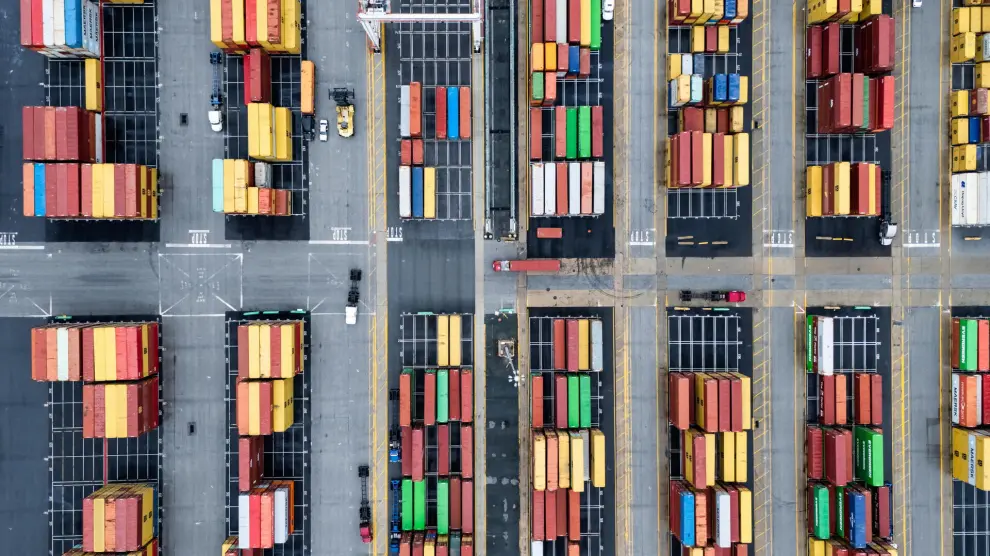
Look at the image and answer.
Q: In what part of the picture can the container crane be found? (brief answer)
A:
top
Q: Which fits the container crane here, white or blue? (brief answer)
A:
white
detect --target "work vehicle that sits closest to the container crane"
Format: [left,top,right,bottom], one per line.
[328,89,355,136]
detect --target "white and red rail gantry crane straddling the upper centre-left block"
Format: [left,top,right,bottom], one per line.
[356,0,485,52]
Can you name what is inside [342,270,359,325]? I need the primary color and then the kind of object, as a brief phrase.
white vehicle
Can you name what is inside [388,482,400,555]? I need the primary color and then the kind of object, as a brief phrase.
blue vehicle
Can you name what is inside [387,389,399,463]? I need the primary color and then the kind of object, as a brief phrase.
blue vehicle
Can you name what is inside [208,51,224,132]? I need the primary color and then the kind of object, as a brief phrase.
white vehicle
